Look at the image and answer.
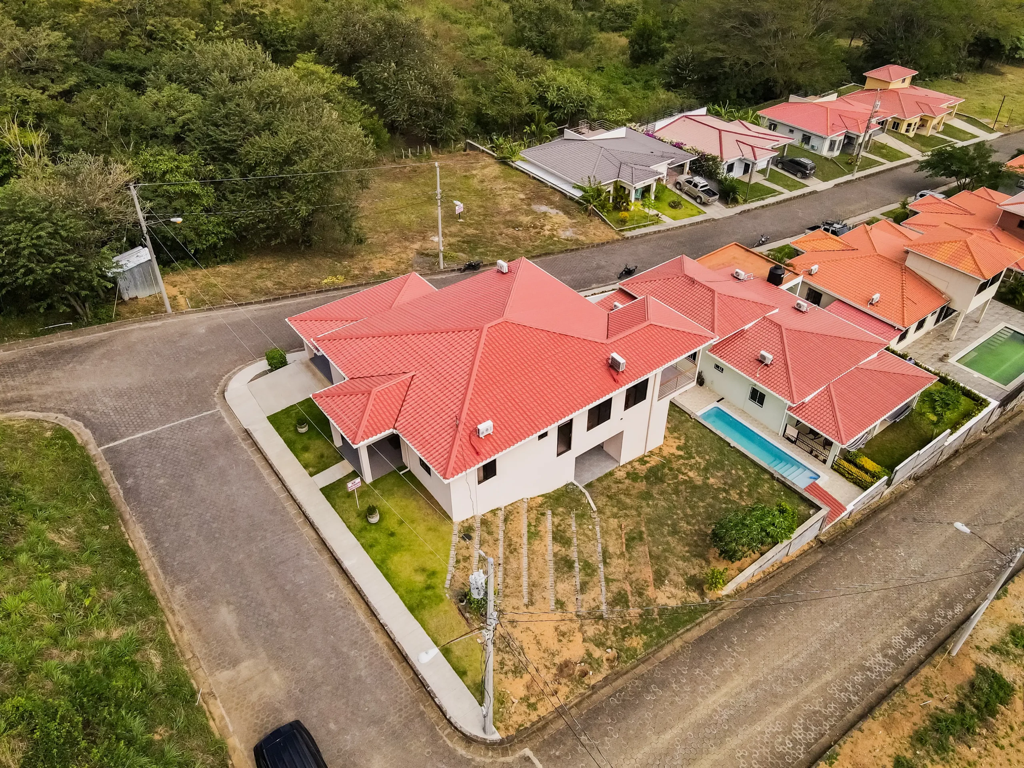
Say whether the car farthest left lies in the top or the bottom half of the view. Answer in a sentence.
The bottom half of the photo is where the car farthest left is.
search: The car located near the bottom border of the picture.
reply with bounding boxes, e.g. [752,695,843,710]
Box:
[245,709,326,768]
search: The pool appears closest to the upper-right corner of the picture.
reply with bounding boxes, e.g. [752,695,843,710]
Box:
[949,319,1024,392]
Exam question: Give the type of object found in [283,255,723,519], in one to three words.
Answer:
house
